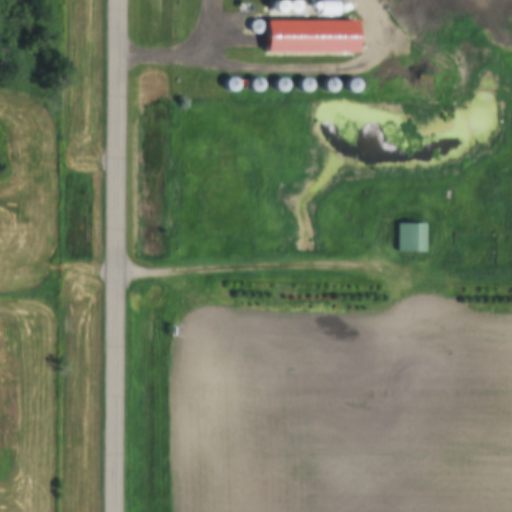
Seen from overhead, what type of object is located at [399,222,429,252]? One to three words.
shed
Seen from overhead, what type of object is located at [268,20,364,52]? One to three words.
barn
